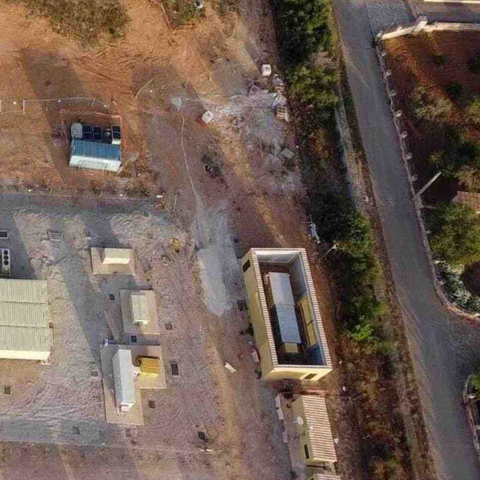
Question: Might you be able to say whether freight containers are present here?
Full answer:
Yes, a freight container can be made out from above.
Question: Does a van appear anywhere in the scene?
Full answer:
No, I can't see a single van in this photo.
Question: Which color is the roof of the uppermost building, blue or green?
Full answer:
The color of the roof of the uppermost building is blue.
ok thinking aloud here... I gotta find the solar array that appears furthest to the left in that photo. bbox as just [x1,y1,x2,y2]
[84,126,101,141]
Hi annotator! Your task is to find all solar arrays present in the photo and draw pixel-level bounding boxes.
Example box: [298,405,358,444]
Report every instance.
[84,126,101,141]
[112,126,121,143]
